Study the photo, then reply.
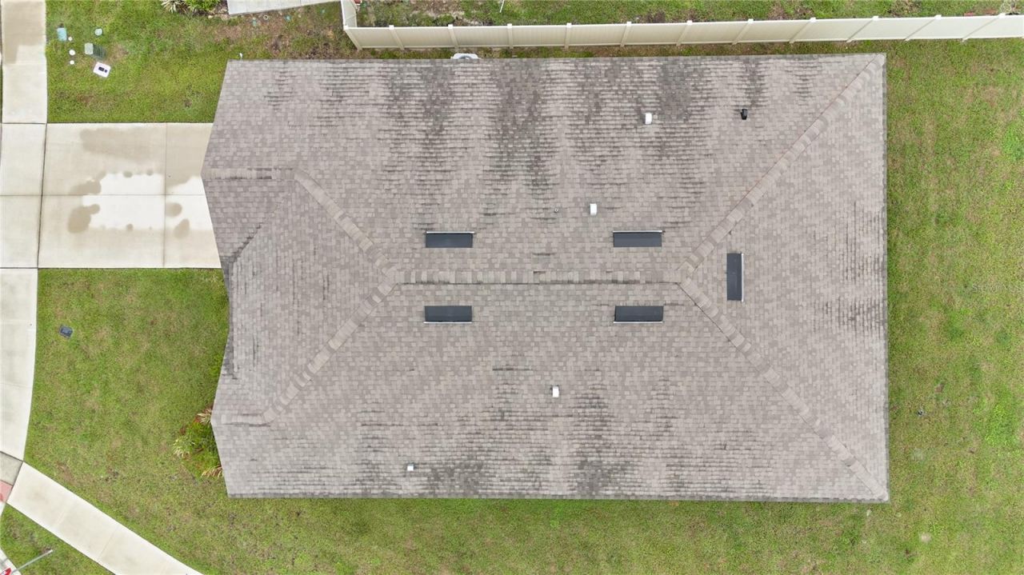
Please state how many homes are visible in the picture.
1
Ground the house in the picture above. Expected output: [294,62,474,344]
[201,53,888,503]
